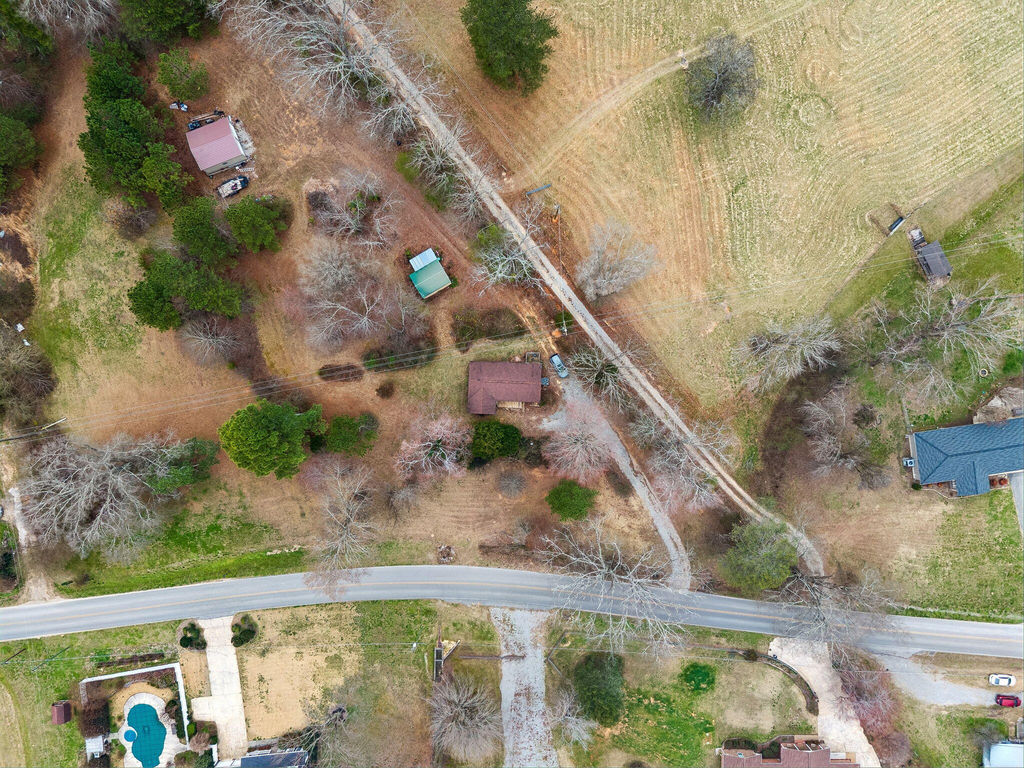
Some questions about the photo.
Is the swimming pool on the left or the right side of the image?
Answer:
left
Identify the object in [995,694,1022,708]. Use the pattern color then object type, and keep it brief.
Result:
red car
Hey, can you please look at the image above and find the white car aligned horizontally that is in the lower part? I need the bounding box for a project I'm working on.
[988,674,1016,687]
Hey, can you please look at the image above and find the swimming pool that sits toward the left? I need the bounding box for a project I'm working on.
[119,692,188,768]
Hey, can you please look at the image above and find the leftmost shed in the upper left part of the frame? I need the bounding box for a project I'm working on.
[186,117,247,175]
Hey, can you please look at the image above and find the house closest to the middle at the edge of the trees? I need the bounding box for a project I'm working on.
[468,361,542,416]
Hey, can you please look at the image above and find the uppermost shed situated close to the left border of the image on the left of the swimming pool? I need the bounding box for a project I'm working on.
[46,706,72,730]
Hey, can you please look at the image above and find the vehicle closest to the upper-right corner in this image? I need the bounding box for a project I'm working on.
[549,352,568,380]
